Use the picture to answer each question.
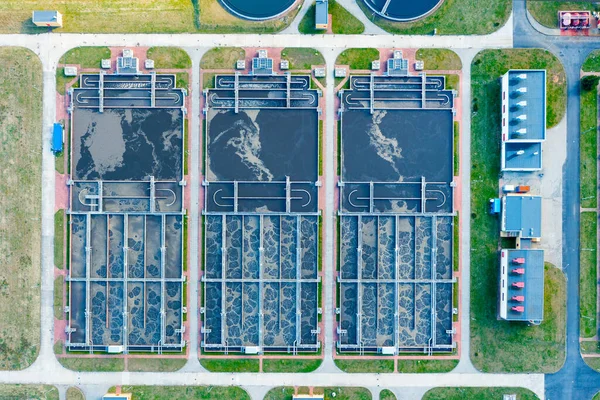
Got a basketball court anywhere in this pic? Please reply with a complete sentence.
No, the picture doesn't show any basketball court.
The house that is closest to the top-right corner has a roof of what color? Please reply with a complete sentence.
The color of the roof on the house that is closest to the top-right corner is blue.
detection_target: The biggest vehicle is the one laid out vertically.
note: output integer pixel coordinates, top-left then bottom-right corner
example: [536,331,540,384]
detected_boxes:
[52,122,66,152]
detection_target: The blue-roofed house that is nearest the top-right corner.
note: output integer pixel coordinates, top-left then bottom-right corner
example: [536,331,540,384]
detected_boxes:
[501,69,547,142]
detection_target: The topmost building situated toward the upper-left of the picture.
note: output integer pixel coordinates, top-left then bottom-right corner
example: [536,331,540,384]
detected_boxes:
[32,10,63,29]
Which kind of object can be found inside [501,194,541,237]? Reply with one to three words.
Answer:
building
